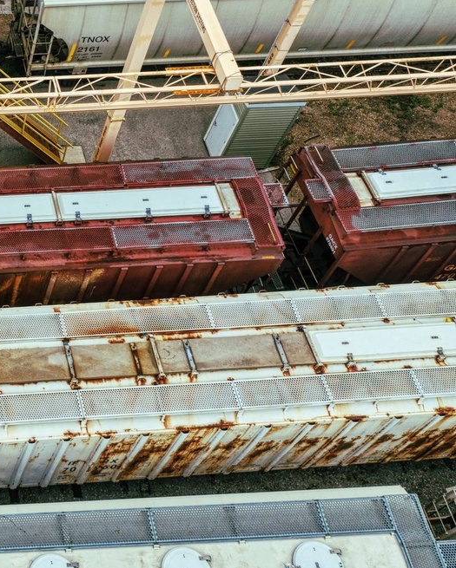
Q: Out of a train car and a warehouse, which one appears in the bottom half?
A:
train car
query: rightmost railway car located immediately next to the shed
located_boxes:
[270,129,456,286]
